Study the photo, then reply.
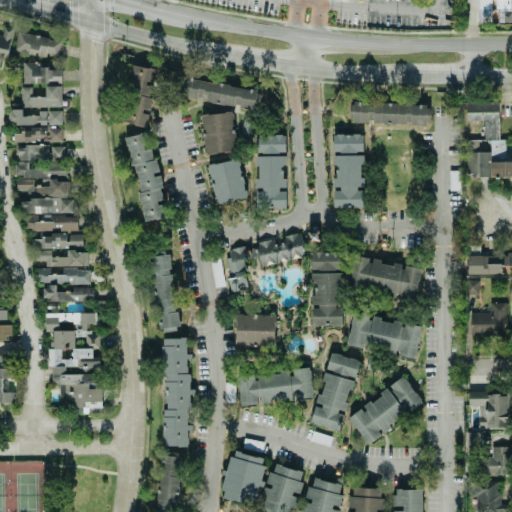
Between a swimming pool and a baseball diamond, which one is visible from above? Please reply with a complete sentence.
Looking from above, you can make out a swimming pool.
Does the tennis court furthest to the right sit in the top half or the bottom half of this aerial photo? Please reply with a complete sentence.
It is in the bottom half that the tennis court furthest to the right appears.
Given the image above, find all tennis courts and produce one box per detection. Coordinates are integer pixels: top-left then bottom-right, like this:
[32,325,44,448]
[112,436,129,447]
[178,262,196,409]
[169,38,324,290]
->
[0,462,12,512]
[12,462,44,512]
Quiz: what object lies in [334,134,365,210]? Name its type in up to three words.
building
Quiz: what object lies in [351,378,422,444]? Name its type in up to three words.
building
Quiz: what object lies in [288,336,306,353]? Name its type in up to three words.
swimming pool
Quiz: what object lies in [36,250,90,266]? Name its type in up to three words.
house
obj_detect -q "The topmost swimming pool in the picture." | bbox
[258,268,304,308]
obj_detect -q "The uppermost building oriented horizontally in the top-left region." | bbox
[17,33,62,58]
